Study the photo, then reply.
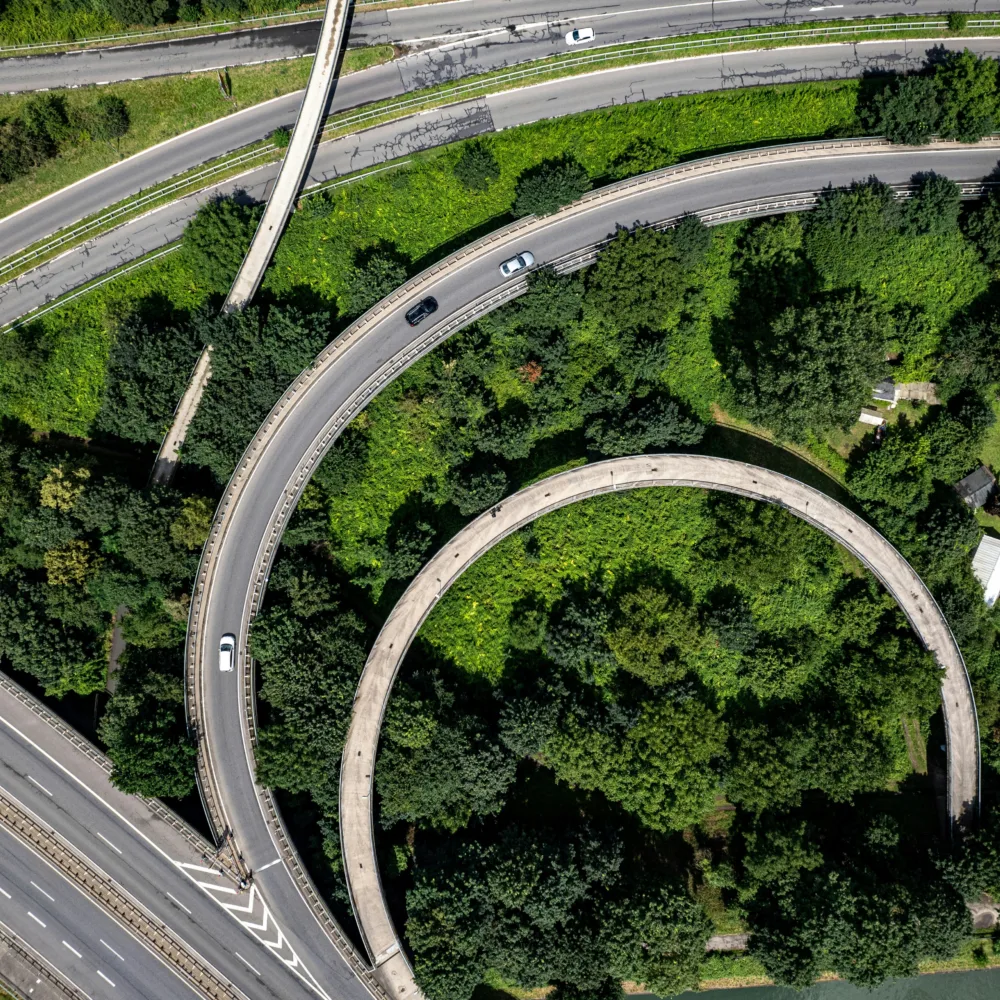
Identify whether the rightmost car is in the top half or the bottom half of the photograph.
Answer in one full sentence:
Seen from above, the rightmost car lies in the top half of the view.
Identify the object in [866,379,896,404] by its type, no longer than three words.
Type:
shed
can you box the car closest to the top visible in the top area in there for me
[565,24,597,45]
